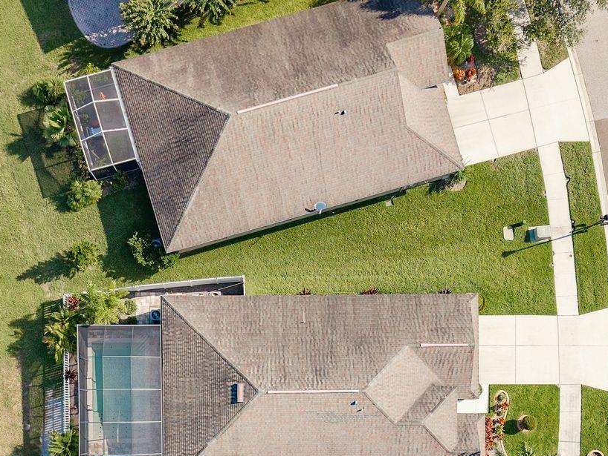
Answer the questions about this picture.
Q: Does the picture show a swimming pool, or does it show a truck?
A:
swimming pool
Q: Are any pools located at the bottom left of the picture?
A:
Yes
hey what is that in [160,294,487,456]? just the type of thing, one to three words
house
